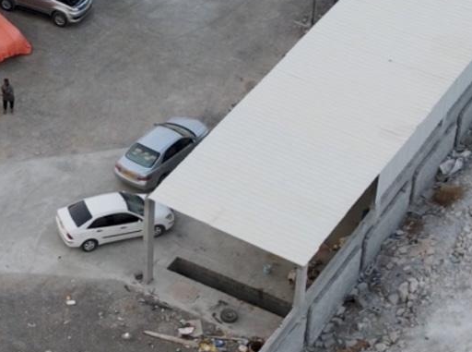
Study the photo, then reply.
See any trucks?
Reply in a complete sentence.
No, the frame has no truck in it.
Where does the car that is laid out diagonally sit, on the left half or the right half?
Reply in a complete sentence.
The car that is laid out diagonally is on the left side of the image.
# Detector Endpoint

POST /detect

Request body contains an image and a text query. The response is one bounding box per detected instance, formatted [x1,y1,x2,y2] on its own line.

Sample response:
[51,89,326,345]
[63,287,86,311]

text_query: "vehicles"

[60,192,180,252]
[0,0,94,27]
[116,121,210,193]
